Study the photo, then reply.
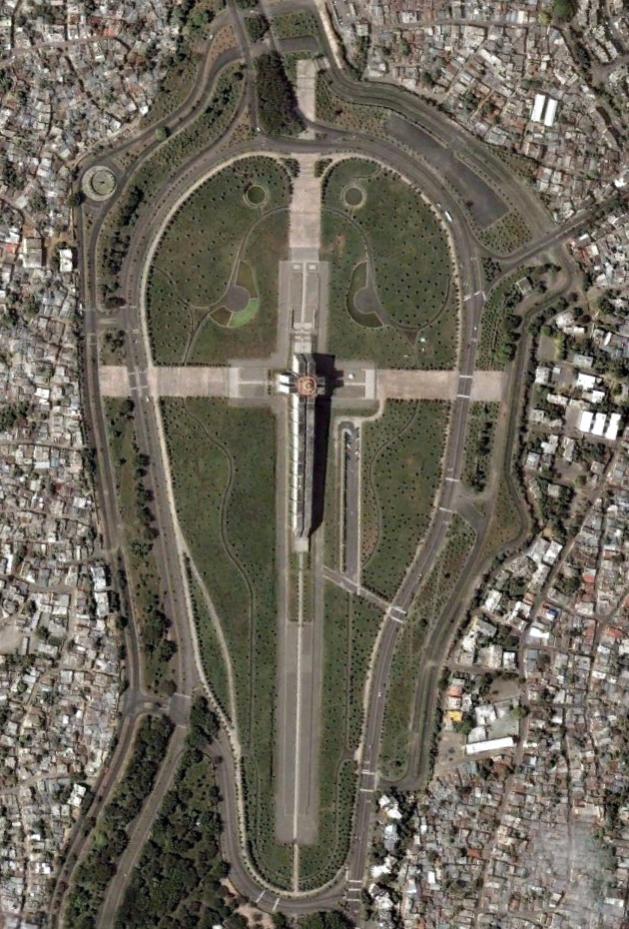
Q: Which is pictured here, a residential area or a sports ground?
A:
residential area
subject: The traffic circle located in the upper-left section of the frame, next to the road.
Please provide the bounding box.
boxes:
[75,159,123,206]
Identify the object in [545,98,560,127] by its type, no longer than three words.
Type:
shed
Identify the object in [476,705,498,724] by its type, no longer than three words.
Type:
house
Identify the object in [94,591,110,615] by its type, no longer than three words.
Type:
house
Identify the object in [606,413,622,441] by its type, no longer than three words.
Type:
building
